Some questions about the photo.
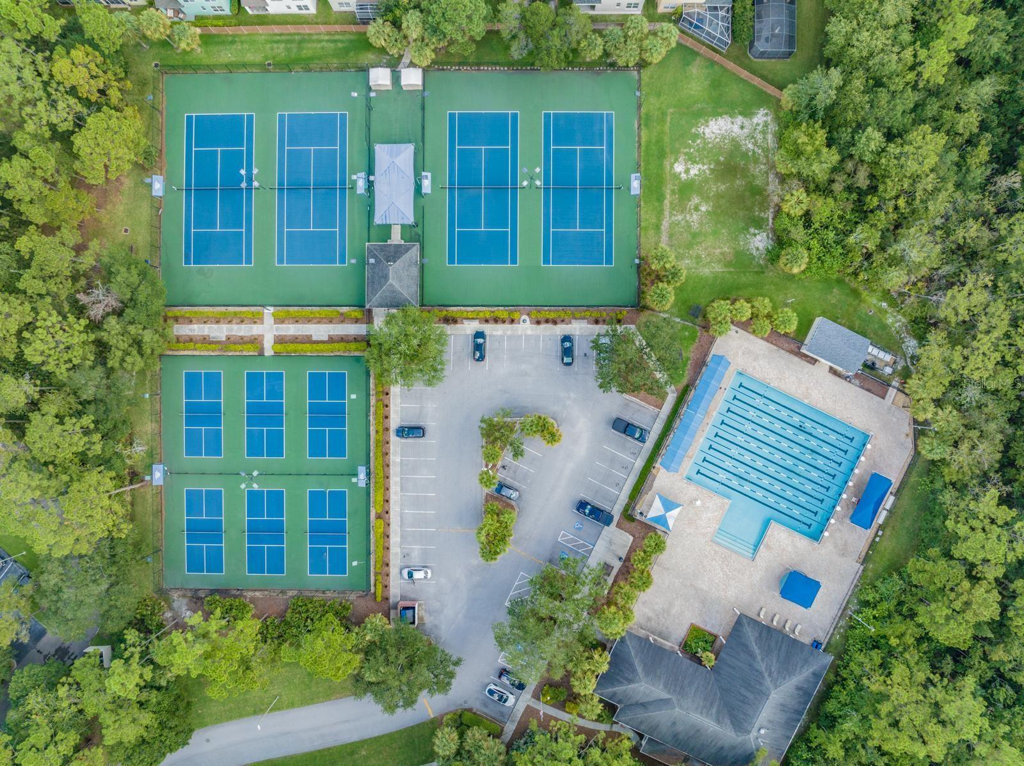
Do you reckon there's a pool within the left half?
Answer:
No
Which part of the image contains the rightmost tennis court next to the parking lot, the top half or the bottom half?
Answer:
top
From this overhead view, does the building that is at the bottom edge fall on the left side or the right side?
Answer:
right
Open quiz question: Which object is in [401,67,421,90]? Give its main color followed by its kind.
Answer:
white tent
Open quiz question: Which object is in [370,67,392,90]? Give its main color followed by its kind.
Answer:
white tent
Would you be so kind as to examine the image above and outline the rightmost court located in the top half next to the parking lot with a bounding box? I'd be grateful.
[531,70,639,304]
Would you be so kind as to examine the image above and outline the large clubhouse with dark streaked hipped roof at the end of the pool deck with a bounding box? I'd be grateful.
[592,607,832,766]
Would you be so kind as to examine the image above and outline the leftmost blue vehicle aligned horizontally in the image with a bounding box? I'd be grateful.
[394,425,427,440]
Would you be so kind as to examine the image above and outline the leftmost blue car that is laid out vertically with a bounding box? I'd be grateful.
[472,330,486,361]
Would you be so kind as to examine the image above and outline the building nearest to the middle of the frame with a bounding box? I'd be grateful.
[365,242,420,308]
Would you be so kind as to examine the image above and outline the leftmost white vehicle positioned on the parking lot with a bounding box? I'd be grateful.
[401,568,432,587]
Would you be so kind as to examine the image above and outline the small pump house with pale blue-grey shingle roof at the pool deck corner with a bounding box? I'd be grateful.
[800,316,870,374]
